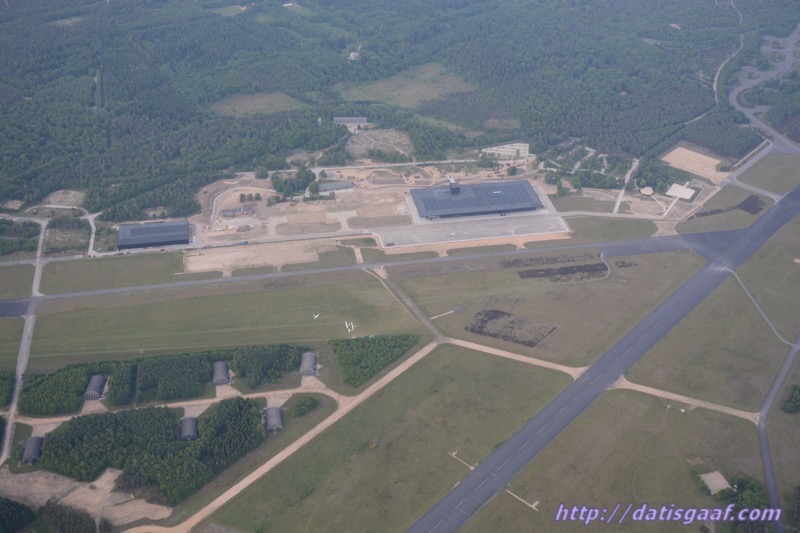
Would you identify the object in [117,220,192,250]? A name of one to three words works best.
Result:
hangar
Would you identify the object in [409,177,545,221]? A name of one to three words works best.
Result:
building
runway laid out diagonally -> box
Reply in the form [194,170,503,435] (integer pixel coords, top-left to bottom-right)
[402,184,800,533]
